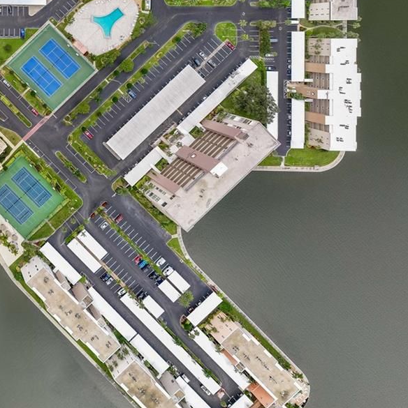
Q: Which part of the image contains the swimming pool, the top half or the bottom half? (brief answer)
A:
top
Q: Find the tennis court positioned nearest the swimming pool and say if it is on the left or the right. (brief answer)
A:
left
